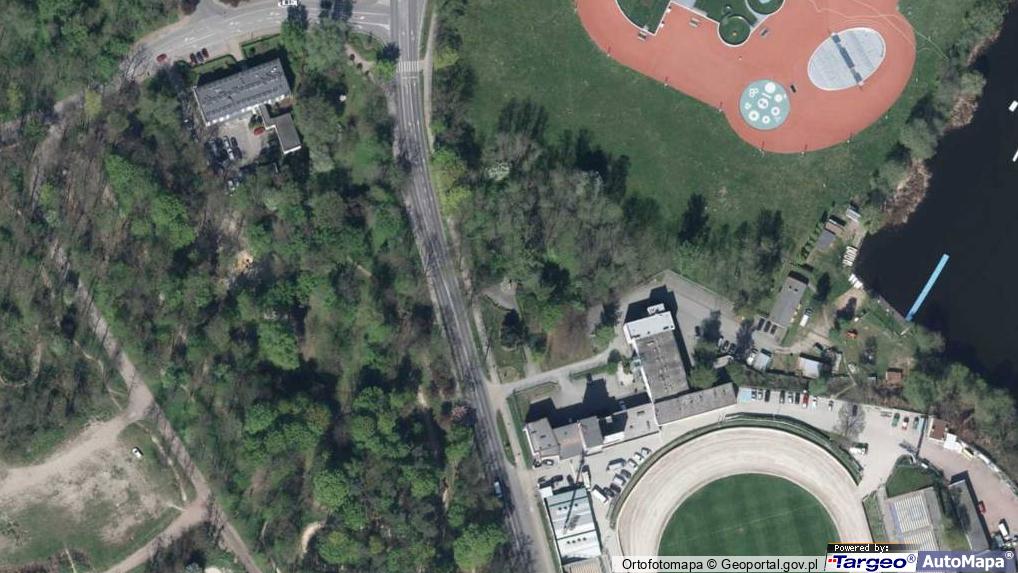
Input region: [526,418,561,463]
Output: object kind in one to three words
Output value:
house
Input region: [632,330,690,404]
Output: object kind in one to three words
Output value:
building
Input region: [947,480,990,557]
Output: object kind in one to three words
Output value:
building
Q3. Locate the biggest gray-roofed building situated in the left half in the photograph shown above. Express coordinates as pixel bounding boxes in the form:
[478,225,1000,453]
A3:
[195,58,290,124]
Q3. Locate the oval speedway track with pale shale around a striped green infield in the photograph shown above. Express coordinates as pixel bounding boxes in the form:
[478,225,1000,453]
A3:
[617,426,883,573]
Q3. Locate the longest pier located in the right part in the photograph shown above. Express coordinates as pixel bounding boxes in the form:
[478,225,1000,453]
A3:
[907,254,945,319]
